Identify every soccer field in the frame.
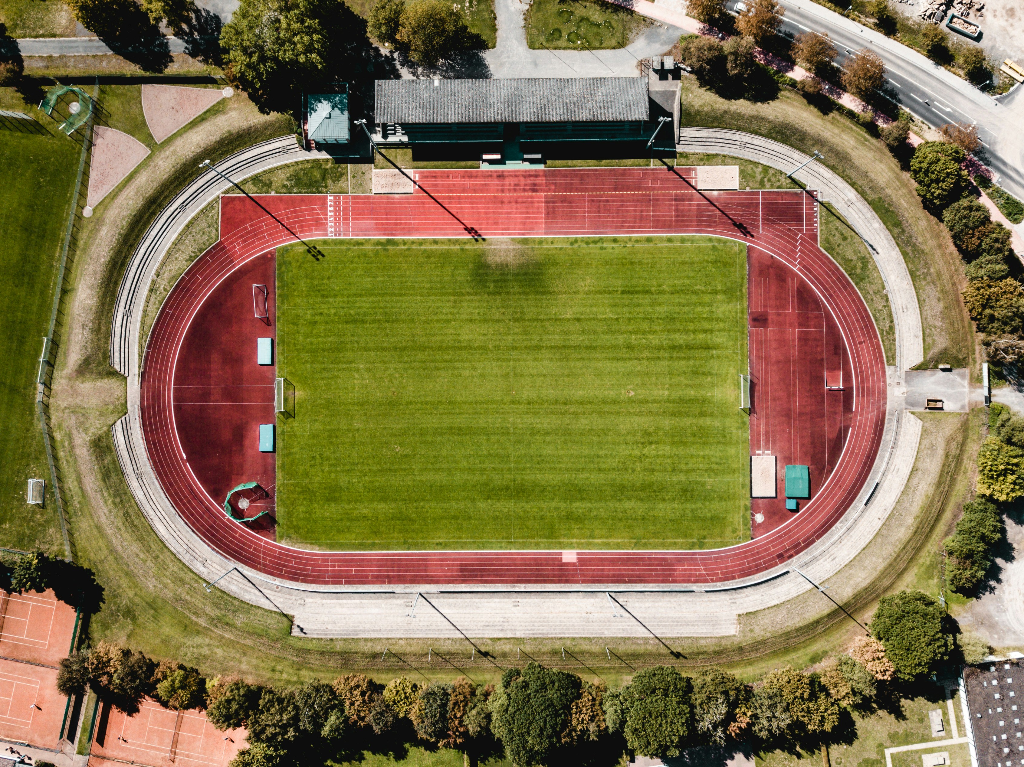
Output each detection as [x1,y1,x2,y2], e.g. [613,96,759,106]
[0,121,82,555]
[275,235,751,551]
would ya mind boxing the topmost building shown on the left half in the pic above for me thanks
[308,94,349,142]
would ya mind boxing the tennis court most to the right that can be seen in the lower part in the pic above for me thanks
[88,694,250,767]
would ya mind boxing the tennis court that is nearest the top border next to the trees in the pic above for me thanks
[0,583,77,668]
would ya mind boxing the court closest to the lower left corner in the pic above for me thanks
[0,659,70,750]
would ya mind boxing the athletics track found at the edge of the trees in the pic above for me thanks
[138,164,889,587]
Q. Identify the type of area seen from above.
sports ground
